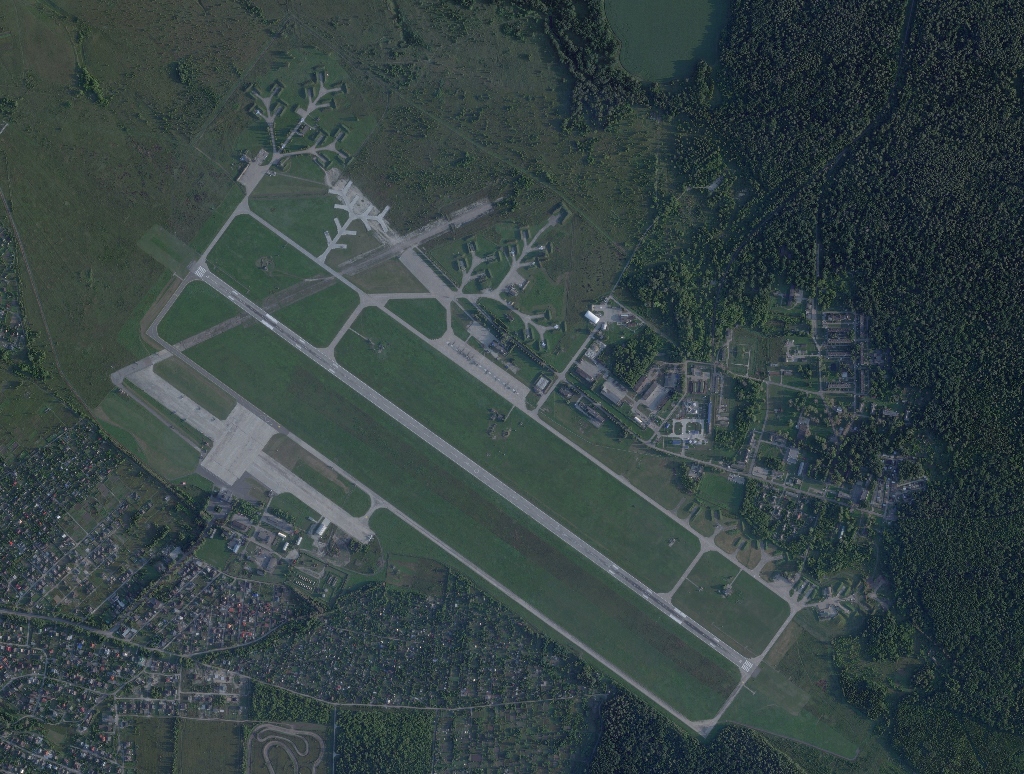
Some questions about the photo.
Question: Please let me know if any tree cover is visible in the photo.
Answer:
Yes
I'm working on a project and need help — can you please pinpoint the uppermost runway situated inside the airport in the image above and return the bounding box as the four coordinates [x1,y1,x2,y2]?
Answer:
[338,198,493,276]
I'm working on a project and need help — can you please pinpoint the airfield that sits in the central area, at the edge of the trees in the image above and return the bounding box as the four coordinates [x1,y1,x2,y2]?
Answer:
[111,72,854,738]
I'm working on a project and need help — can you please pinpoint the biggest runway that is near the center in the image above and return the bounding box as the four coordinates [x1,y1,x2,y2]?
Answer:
[192,264,756,674]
